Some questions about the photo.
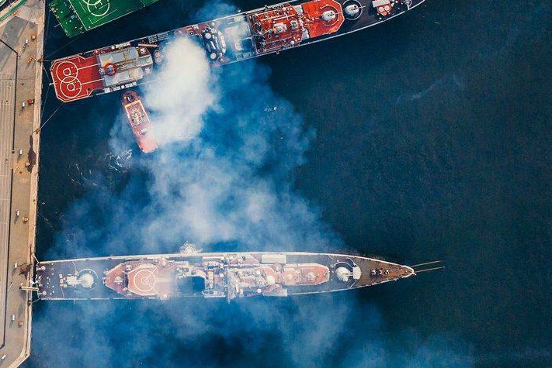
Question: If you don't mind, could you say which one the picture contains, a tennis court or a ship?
ship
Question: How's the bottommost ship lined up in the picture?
from side to side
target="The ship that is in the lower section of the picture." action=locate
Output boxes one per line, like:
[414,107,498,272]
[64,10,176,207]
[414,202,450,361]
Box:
[22,249,445,307]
